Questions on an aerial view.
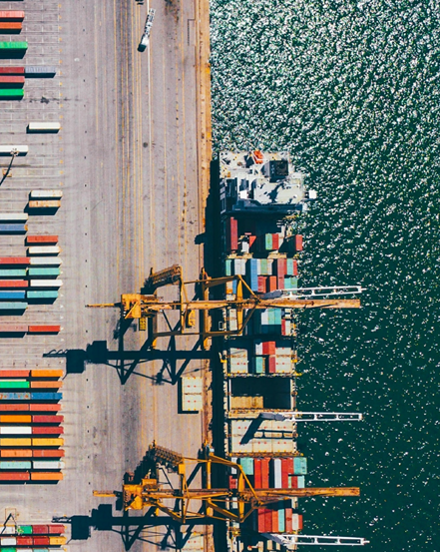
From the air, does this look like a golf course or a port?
port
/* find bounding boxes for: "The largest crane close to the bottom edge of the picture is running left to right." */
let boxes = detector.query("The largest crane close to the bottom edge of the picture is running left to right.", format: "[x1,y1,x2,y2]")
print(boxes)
[87,440,364,525]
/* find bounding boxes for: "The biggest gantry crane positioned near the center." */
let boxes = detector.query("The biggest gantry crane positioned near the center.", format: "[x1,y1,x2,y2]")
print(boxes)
[85,264,360,355]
